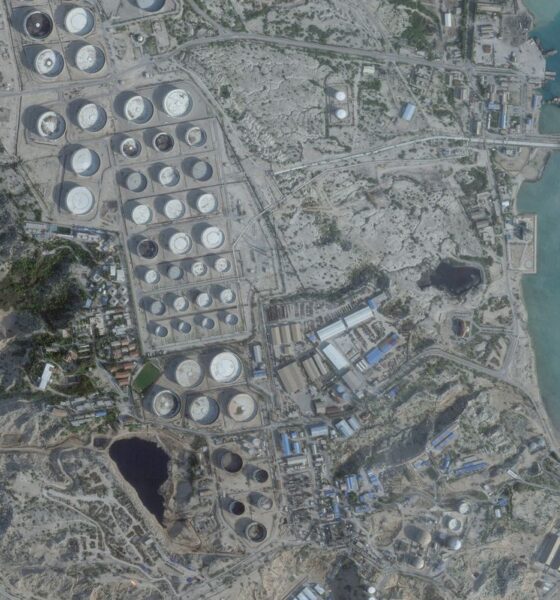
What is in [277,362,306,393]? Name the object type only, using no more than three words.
building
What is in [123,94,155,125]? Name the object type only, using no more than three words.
storage tank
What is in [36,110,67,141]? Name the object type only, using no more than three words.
storage tank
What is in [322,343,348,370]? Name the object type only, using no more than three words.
building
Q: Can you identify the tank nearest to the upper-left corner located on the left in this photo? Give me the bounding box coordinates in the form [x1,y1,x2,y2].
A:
[23,9,55,40]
